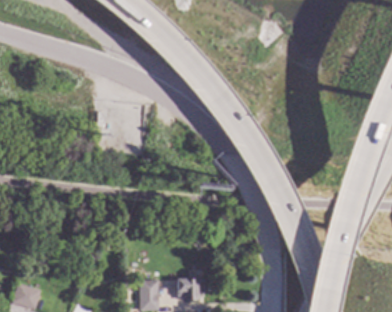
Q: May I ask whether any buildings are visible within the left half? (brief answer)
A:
Yes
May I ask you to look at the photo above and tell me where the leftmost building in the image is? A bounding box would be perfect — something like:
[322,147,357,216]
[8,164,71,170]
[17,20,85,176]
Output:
[14,286,40,310]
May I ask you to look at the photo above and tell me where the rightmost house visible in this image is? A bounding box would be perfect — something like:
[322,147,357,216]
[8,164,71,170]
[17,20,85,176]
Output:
[166,276,207,304]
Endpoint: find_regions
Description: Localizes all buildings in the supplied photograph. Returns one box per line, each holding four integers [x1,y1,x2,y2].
[14,286,40,310]
[166,276,207,304]
[140,281,160,310]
